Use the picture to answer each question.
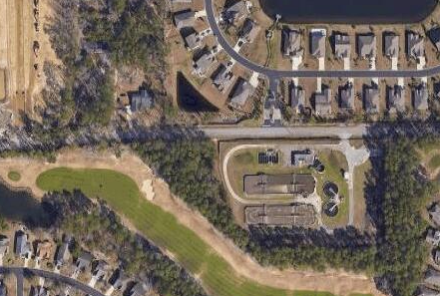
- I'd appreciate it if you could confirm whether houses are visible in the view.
Yes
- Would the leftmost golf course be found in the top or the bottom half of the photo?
bottom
